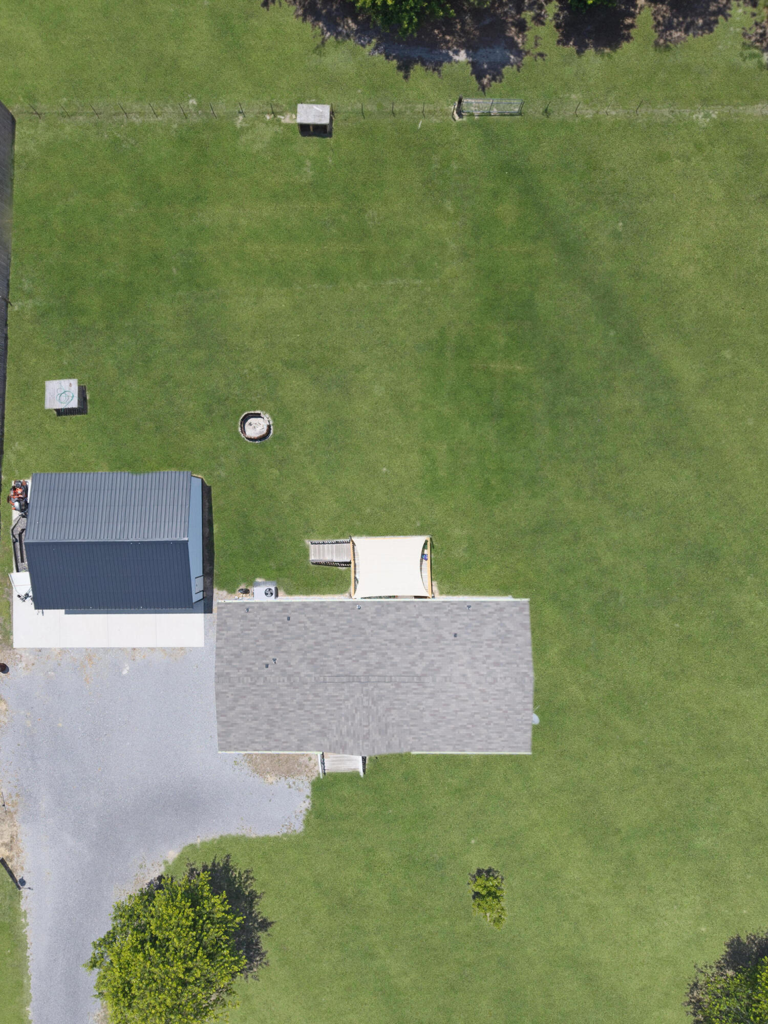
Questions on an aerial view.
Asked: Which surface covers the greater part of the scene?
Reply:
grass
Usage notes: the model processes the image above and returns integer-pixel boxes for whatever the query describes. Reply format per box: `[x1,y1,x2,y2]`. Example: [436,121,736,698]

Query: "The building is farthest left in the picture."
[23,471,207,610]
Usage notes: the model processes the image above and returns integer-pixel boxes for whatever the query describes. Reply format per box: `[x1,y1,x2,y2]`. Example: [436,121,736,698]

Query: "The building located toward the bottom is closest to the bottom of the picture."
[214,592,535,757]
